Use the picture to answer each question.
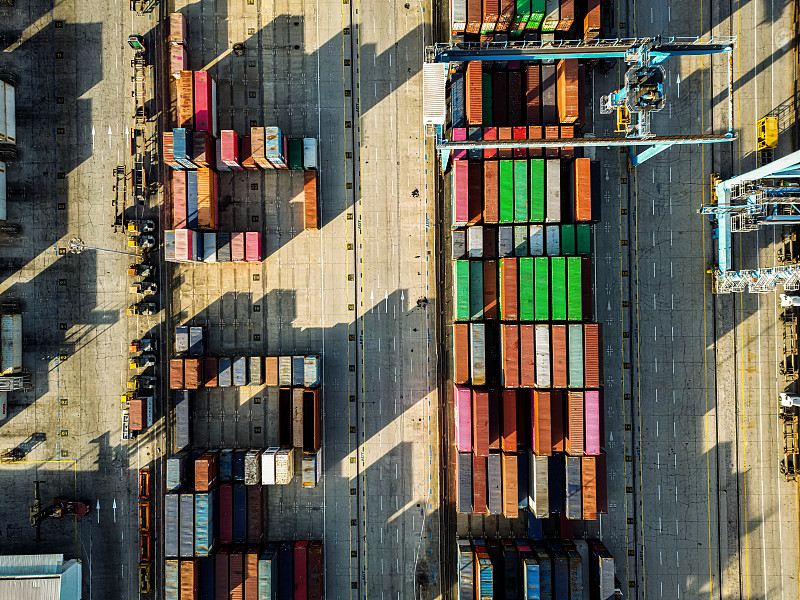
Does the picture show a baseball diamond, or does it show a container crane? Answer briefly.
container crane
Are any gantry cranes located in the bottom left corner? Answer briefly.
No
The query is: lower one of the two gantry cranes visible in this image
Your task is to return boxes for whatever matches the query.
[695,162,800,295]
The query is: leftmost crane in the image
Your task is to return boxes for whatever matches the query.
[424,33,737,180]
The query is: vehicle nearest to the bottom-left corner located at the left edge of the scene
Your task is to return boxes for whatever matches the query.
[21,482,86,537]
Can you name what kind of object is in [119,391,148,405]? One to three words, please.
work vehicle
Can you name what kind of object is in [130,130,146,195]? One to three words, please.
trailer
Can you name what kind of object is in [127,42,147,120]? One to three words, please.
vehicle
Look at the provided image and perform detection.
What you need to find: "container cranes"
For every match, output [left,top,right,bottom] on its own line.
[424,33,737,180]
[695,162,800,295]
